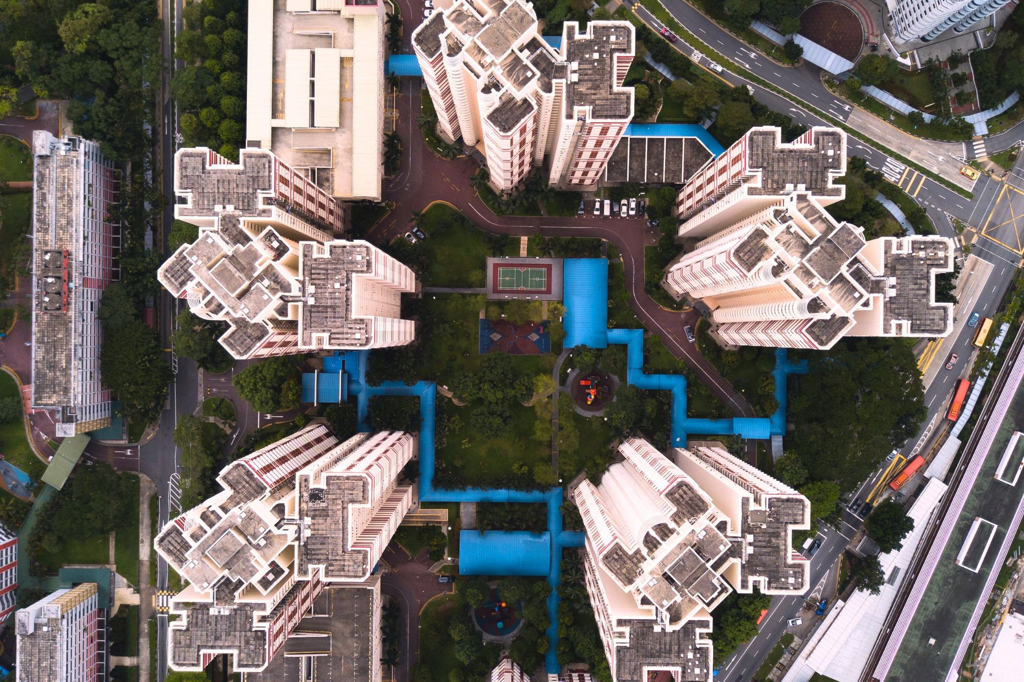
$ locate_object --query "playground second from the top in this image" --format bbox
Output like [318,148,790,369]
[0,460,36,501]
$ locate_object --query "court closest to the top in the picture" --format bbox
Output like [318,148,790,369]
[486,256,563,300]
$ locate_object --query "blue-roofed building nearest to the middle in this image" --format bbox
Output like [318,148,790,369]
[563,258,608,348]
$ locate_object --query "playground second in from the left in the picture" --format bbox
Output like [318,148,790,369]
[471,586,526,641]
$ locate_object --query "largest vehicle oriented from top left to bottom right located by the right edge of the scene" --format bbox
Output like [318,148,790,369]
[960,166,977,180]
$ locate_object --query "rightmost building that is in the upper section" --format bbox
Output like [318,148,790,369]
[882,0,1022,96]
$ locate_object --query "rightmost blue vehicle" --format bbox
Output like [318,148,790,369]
[967,311,980,328]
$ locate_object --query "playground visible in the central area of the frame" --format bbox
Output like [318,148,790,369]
[564,363,620,419]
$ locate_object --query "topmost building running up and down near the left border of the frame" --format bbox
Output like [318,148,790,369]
[33,130,123,436]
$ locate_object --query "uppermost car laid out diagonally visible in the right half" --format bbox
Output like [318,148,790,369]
[660,26,677,42]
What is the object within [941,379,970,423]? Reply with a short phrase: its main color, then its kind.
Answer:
red bus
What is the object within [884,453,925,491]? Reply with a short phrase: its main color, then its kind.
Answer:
red bus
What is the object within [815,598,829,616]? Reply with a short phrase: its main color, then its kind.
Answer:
blue car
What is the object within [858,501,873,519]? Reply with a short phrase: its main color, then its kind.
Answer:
black car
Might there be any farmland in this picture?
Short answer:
No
